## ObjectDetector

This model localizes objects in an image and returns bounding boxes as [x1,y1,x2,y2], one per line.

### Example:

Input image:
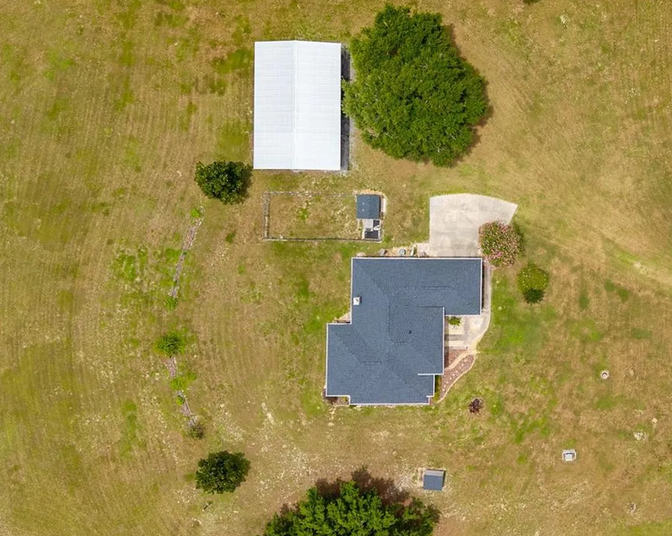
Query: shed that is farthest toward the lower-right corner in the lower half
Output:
[423,470,444,490]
